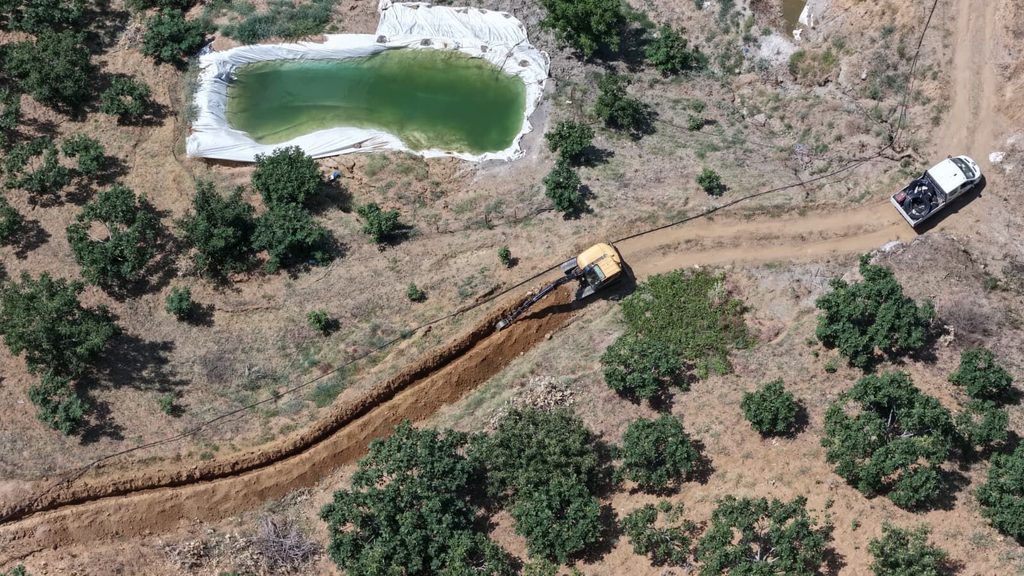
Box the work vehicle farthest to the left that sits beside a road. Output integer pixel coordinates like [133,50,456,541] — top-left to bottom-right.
[497,242,633,329]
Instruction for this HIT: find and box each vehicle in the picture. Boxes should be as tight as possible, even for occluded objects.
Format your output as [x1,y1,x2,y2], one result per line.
[497,242,633,329]
[886,163,986,232]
